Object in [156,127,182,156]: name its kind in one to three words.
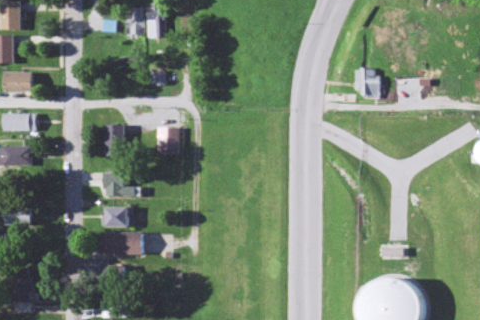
house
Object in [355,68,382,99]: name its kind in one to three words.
house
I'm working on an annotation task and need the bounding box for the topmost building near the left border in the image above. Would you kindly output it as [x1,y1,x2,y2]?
[0,1,23,30]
